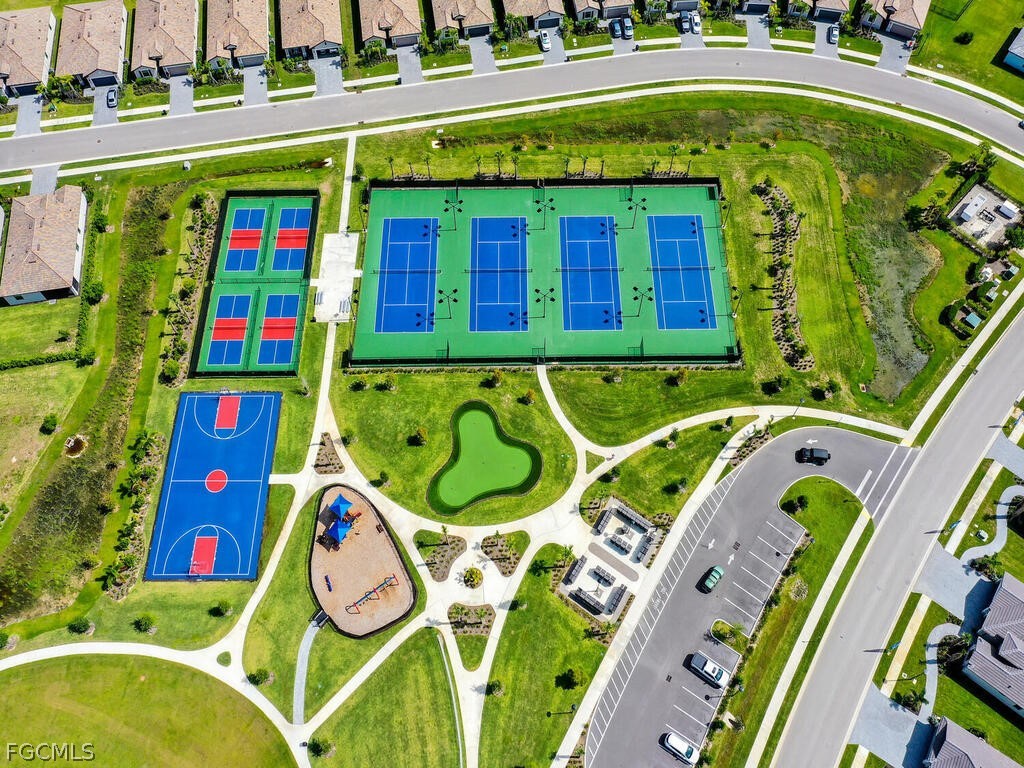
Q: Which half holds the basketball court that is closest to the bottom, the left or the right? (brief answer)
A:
left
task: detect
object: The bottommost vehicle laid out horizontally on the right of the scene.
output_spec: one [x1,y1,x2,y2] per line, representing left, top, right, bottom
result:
[797,447,834,462]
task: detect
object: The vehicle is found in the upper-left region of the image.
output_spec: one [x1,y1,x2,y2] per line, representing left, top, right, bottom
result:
[105,87,117,106]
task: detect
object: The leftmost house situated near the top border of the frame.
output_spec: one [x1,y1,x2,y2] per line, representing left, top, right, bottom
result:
[0,6,55,99]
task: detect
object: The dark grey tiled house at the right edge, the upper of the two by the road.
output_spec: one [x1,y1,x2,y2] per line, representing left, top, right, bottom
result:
[958,571,1024,712]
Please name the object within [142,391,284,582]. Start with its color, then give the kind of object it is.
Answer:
blue basketball court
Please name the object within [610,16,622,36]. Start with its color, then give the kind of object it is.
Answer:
blue vehicle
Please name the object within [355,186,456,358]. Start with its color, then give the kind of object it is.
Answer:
green tennis court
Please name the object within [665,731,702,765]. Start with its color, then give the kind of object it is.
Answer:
white car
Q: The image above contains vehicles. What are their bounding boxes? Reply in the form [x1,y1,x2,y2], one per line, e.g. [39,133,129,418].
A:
[610,16,622,36]
[797,447,834,462]
[679,6,691,30]
[689,11,701,32]
[704,563,724,590]
[539,26,551,49]
[105,87,117,106]
[665,731,702,765]
[693,651,731,686]
[621,10,634,37]
[830,22,841,42]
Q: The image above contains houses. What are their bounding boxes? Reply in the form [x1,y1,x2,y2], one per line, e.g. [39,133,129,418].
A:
[432,0,494,40]
[713,0,774,13]
[958,571,1024,712]
[56,0,126,85]
[280,0,342,57]
[501,0,565,26]
[865,0,934,37]
[571,0,634,24]
[207,0,268,71]
[358,0,421,52]
[0,185,86,305]
[131,0,198,81]
[641,0,698,17]
[785,0,849,20]
[0,6,55,99]
[1005,33,1024,72]
[920,716,1024,768]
